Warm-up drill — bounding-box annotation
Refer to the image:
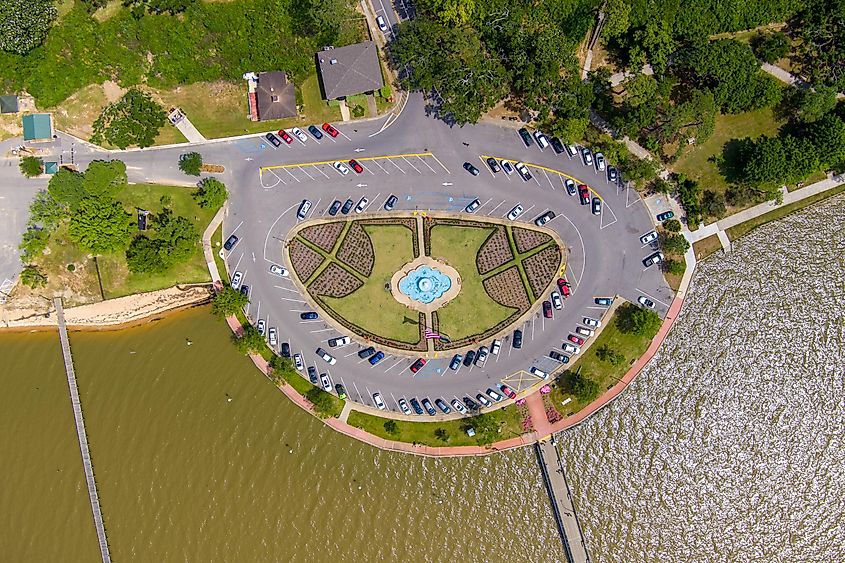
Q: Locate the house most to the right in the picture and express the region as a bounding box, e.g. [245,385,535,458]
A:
[319,38,382,95]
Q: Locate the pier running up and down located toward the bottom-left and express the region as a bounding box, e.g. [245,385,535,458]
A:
[54,297,112,563]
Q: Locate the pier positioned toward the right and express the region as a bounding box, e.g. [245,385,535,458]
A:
[538,435,592,563]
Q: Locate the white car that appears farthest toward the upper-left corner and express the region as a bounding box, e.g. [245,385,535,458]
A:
[292,126,309,143]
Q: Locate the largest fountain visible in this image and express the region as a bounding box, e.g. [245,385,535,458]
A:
[399,265,451,304]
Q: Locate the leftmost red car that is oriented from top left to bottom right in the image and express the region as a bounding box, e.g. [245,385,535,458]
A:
[277,129,294,145]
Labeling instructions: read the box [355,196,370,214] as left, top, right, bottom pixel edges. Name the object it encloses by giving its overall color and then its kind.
white car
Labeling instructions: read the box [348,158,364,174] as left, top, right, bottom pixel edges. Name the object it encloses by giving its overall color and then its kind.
red car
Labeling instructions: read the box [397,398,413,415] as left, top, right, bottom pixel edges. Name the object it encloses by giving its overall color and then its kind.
white car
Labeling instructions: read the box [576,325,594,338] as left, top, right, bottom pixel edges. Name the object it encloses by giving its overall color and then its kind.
white vehicle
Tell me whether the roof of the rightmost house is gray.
Yes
